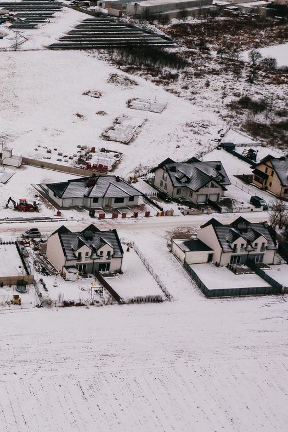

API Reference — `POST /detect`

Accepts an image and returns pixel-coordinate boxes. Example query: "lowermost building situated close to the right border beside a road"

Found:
[194,214,281,271]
